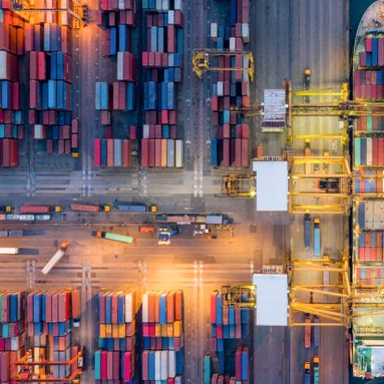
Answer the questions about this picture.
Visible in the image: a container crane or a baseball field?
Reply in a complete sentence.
It is a container crane that can be seen here.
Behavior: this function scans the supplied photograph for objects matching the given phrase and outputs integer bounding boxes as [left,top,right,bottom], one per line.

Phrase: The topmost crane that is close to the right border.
[231,81,384,151]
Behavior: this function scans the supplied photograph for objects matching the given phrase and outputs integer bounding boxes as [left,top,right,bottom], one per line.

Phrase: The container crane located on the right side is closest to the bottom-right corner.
[221,245,384,325]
